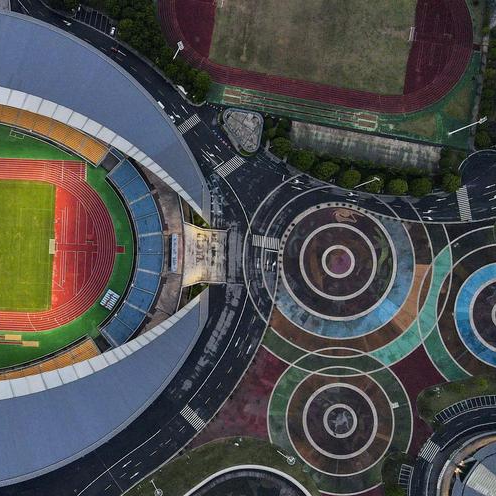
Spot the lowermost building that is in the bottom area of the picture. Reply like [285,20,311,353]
[434,431,496,496]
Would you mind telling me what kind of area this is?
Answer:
sports ground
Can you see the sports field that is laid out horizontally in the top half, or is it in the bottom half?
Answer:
top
